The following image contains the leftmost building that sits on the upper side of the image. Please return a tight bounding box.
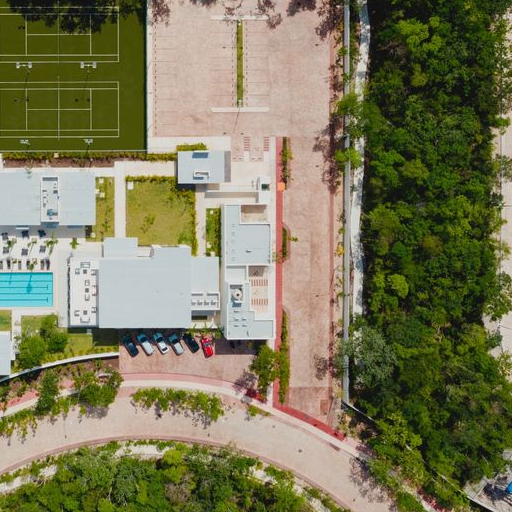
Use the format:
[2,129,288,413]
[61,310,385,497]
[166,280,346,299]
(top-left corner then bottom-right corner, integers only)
[0,172,94,228]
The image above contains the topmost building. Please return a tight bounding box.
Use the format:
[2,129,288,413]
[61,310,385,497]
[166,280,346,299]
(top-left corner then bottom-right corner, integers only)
[177,151,231,184]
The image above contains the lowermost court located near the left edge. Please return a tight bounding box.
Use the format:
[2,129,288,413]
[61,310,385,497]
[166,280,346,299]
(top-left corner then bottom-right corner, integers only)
[0,72,146,153]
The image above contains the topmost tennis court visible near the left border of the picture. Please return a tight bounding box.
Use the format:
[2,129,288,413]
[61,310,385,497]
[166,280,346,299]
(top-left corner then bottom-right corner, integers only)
[0,0,146,72]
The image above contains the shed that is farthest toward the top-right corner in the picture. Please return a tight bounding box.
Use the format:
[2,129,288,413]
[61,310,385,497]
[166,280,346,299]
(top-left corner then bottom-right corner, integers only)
[255,177,270,203]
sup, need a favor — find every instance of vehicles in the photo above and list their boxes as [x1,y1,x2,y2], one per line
[121,333,140,357]
[199,335,215,356]
[166,331,185,356]
[135,331,155,355]
[181,331,201,355]
[151,331,170,355]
